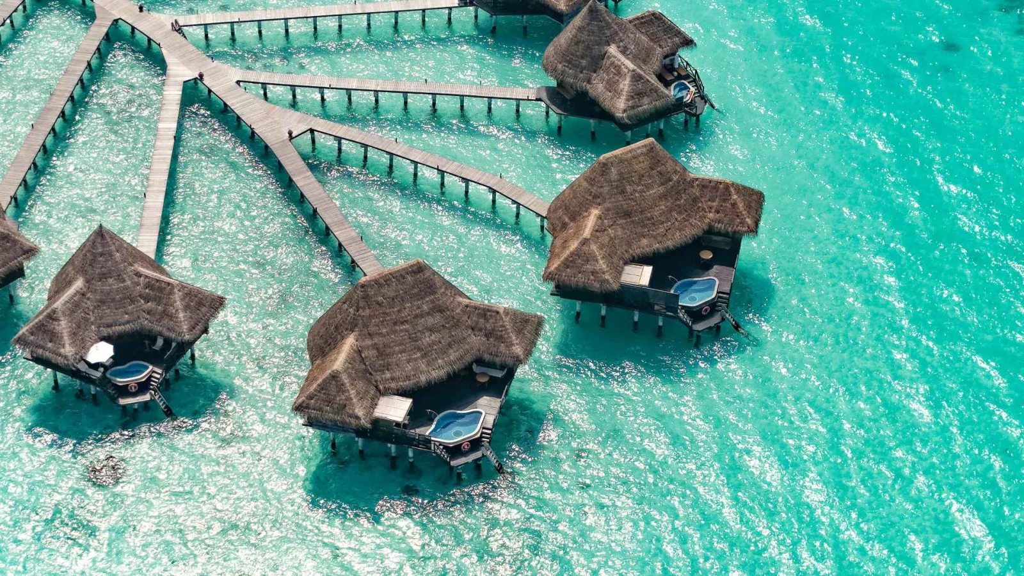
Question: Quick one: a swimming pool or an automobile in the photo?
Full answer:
I can see a swimming pool in this picture.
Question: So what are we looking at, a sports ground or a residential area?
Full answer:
What you see here is a residential area.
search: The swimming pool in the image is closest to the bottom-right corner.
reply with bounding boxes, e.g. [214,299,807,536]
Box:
[665,276,721,318]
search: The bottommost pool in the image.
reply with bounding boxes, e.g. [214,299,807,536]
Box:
[418,412,484,458]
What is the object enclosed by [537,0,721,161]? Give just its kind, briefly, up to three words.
house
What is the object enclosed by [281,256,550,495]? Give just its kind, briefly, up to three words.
house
